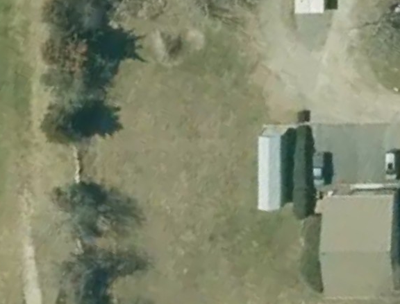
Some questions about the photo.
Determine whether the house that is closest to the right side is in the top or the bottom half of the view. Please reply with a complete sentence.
The bottom half of the photo is where the house that is closest to the right side is.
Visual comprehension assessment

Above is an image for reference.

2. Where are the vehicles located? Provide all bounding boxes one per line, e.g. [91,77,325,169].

[385,148,398,176]
[312,153,325,181]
